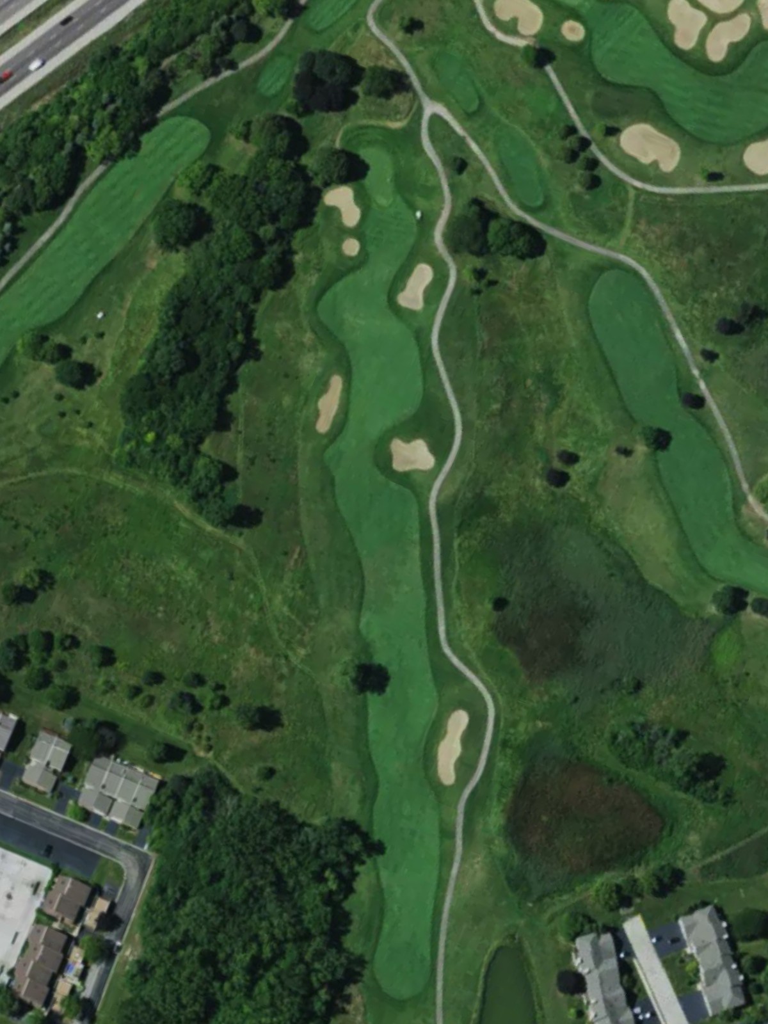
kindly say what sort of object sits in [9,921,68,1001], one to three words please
house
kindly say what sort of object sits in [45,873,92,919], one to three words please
house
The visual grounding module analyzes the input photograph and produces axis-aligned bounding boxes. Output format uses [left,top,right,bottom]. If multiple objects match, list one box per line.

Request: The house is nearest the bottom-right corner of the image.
[678,906,750,1017]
